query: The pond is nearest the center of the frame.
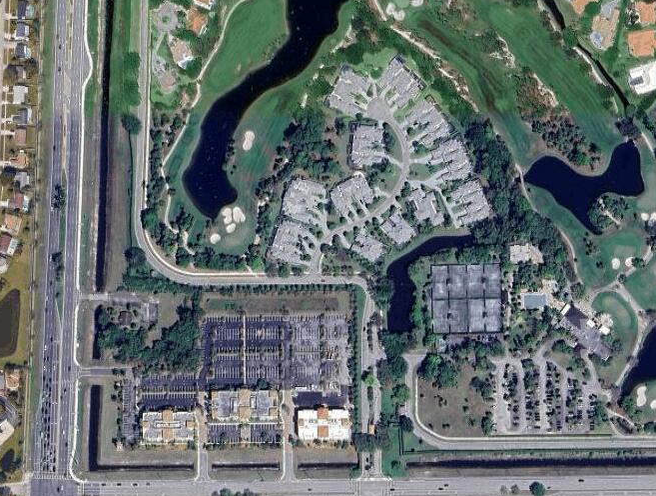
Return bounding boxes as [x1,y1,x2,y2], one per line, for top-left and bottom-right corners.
[389,233,473,332]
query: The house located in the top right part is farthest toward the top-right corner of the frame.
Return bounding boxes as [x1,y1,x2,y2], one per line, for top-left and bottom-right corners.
[635,0,656,23]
